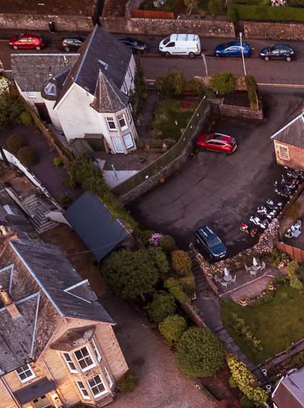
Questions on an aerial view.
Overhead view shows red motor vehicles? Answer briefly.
Yes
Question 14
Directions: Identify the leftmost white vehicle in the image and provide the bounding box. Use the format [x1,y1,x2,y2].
[157,32,205,60]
